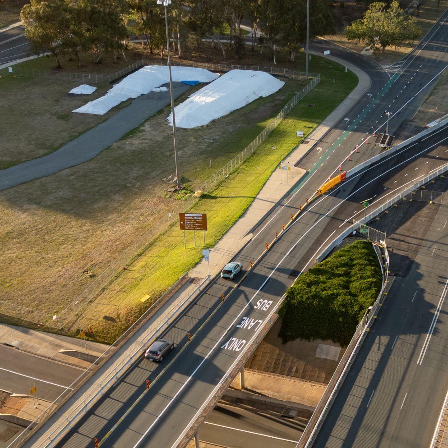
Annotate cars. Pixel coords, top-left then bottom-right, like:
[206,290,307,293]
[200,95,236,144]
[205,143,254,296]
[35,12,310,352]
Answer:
[143,337,176,363]
[222,262,245,279]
